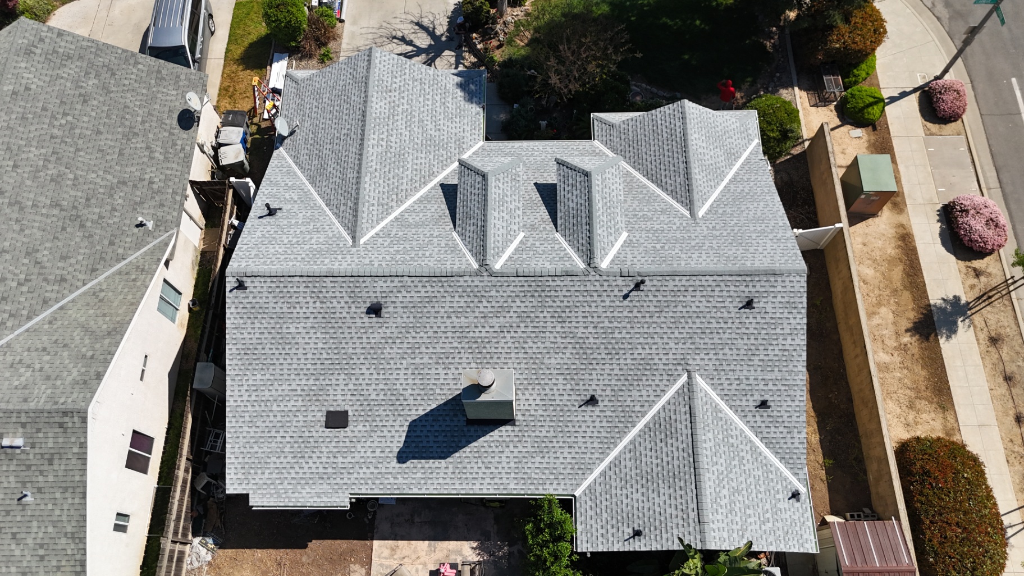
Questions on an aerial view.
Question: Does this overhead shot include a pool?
No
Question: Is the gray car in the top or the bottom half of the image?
top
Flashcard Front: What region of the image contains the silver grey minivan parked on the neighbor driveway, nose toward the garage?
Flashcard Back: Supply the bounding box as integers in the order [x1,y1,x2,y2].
[149,0,219,72]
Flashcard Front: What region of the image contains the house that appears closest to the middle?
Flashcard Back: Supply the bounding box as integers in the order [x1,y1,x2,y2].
[225,47,821,553]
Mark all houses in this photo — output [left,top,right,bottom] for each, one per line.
[0,17,219,576]
[225,47,821,553]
